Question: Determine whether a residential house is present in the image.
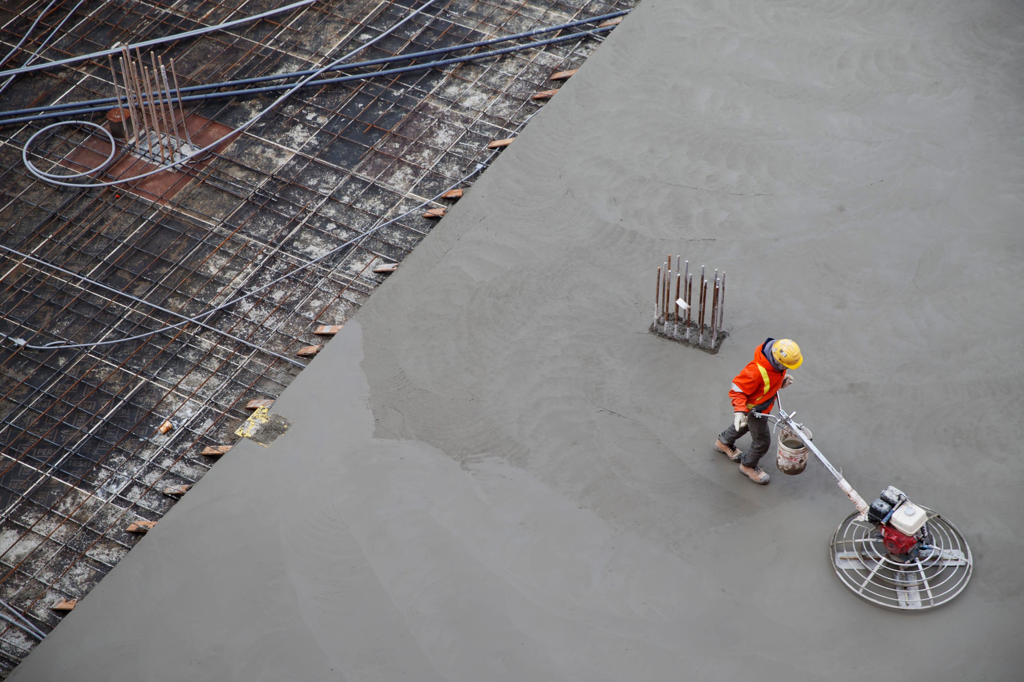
No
